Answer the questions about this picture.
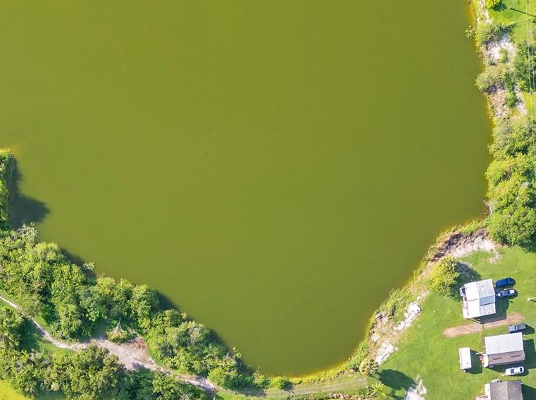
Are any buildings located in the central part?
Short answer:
No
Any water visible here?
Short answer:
Yes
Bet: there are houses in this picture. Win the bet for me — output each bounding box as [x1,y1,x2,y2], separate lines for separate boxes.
[453,280,497,318]
[480,379,523,400]
[479,332,526,368]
